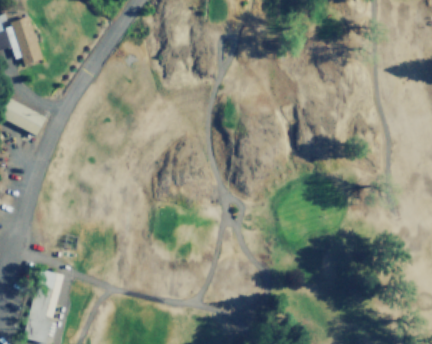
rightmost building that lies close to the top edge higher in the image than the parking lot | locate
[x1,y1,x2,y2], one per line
[7,14,43,65]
